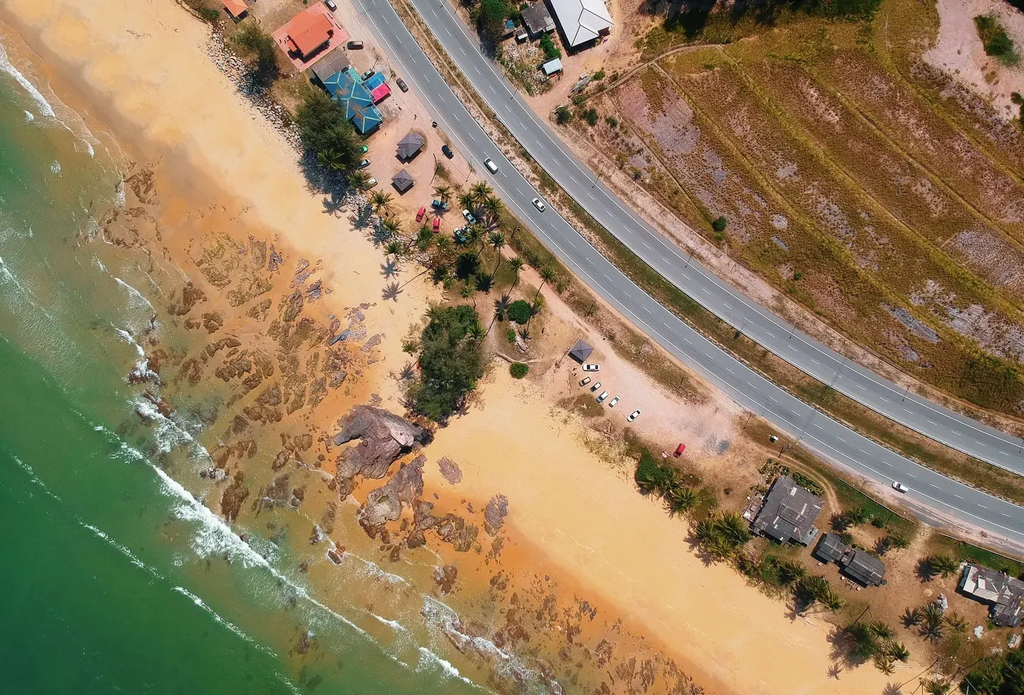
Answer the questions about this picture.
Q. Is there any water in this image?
Yes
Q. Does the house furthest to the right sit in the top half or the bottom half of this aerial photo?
bottom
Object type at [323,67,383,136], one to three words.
building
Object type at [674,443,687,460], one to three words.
vehicle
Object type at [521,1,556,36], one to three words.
house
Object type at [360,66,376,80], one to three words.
car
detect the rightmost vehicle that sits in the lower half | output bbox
[892,481,912,495]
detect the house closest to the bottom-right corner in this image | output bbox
[959,565,1024,627]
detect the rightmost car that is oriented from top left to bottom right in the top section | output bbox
[531,196,546,213]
